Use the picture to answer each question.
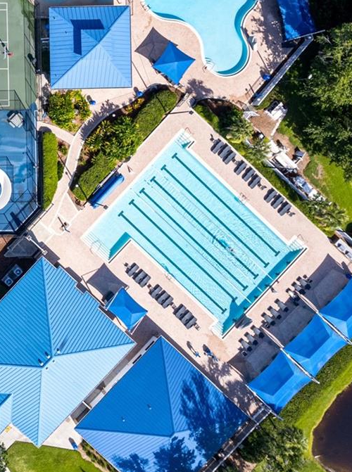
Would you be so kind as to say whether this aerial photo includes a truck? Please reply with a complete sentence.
No, the scene contains no truck.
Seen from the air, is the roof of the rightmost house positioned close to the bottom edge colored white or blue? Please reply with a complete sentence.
The color of the roof of the rightmost house positioned close to the bottom edge is blue.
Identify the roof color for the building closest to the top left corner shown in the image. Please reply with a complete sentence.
The color of the roof on the building closest to the top left corner is blue.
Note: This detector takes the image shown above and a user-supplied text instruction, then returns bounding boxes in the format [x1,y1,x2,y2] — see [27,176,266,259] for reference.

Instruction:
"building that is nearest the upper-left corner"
[48,6,132,89]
